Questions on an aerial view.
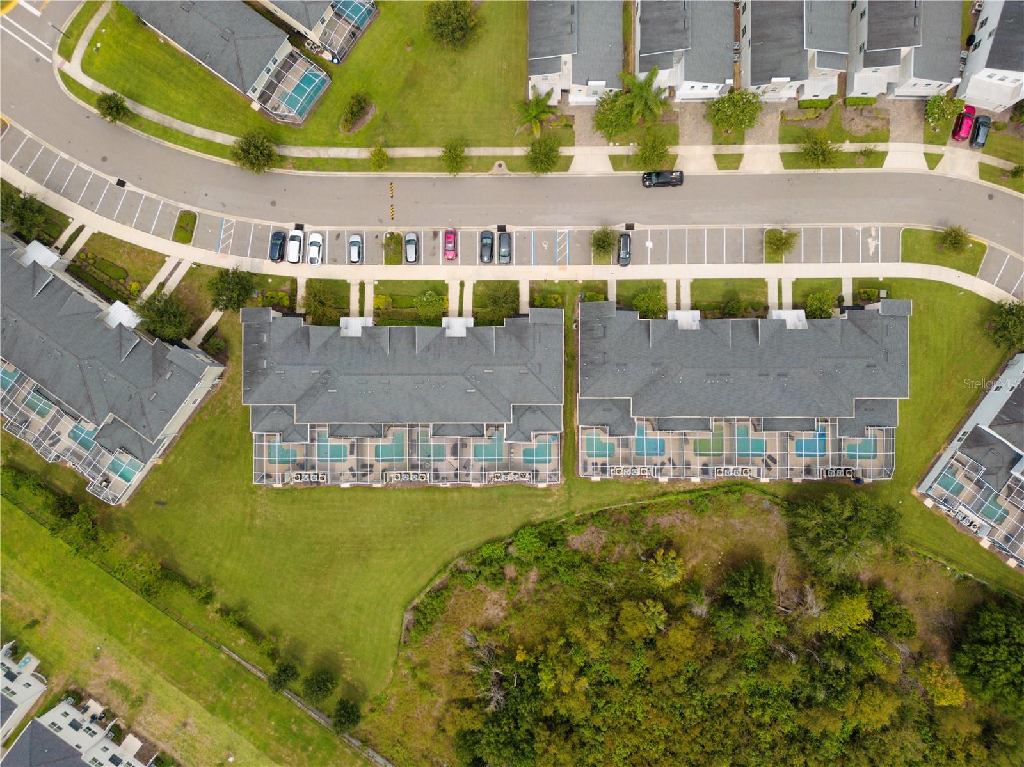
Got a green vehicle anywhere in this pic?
No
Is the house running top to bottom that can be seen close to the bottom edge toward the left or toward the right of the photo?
left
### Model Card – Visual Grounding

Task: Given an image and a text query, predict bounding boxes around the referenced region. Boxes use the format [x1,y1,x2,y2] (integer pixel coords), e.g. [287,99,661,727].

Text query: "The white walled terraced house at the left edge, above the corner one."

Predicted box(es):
[0,649,47,754]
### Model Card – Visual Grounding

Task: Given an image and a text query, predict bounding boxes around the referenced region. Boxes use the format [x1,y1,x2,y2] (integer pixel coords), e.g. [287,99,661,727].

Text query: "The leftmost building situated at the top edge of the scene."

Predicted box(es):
[111,0,298,108]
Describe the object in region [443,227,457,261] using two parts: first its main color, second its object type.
pink car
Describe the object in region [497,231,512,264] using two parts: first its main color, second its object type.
gray car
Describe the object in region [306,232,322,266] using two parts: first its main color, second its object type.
white car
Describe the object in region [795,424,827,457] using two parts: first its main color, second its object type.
blue swimming pool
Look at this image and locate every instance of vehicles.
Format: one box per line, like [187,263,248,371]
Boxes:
[479,229,494,263]
[306,232,322,266]
[972,113,996,148]
[954,105,979,141]
[346,232,362,264]
[643,168,686,187]
[443,227,457,261]
[267,229,285,263]
[618,232,634,266]
[402,230,417,263]
[497,231,512,264]
[285,228,303,264]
